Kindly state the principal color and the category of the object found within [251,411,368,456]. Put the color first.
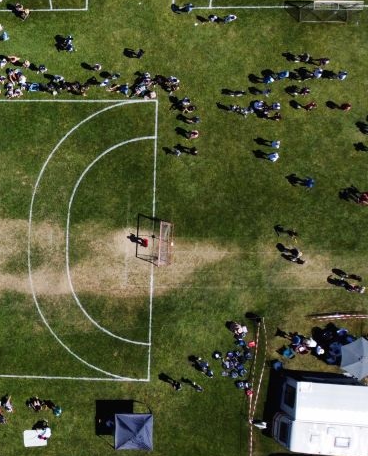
white camper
